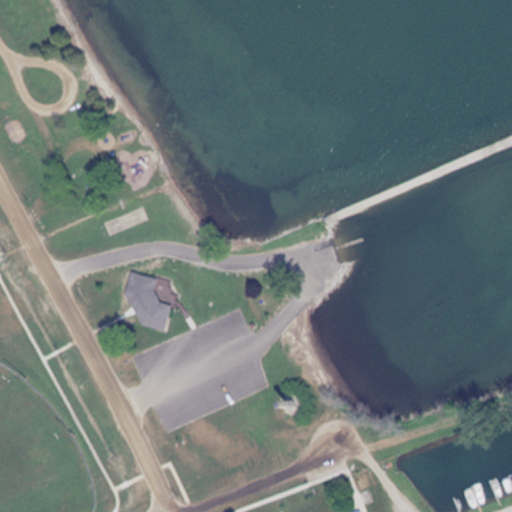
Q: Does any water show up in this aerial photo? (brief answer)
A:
Yes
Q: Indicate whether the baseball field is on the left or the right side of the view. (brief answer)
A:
left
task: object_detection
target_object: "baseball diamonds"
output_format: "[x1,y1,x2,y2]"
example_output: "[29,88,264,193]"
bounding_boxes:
[0,362,97,512]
